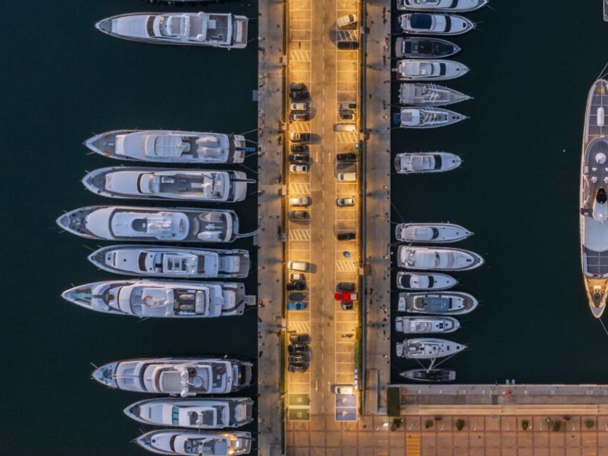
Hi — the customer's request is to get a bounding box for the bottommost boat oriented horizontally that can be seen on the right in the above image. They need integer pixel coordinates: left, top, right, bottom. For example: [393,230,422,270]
[398,369,455,381]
